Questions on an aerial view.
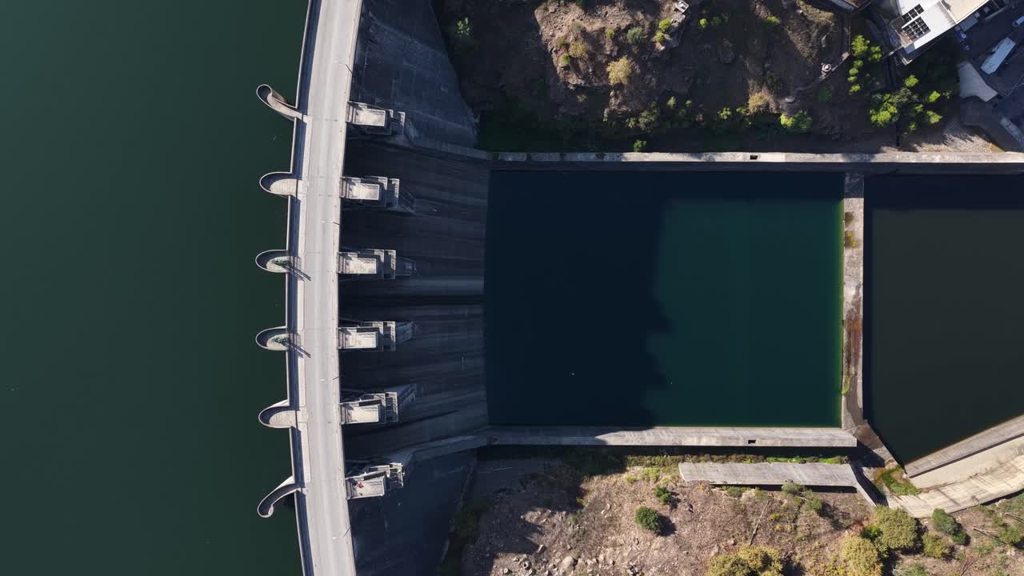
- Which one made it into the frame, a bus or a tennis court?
bus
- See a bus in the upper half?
Yes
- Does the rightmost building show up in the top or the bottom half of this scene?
top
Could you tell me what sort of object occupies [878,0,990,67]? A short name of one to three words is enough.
building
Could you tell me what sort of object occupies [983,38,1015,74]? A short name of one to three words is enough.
bus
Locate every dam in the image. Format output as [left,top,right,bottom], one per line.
[256,0,500,576]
